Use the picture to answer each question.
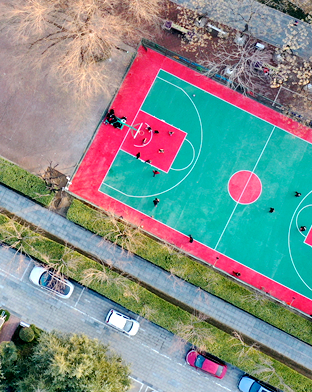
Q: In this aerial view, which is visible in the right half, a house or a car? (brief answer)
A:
car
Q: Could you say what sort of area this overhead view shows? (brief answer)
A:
sports ground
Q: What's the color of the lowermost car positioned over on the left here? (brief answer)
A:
white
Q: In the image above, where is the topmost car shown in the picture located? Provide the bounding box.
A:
[28,266,76,301]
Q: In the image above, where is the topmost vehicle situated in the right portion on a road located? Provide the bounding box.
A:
[183,346,230,380]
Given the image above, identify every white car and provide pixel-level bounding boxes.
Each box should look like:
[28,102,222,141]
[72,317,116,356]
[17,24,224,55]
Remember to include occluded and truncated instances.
[101,305,142,336]
[28,266,76,301]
